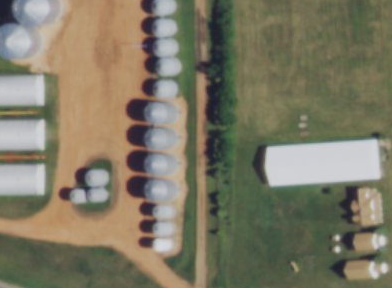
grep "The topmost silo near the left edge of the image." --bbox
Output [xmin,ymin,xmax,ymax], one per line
[12,0,64,28]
